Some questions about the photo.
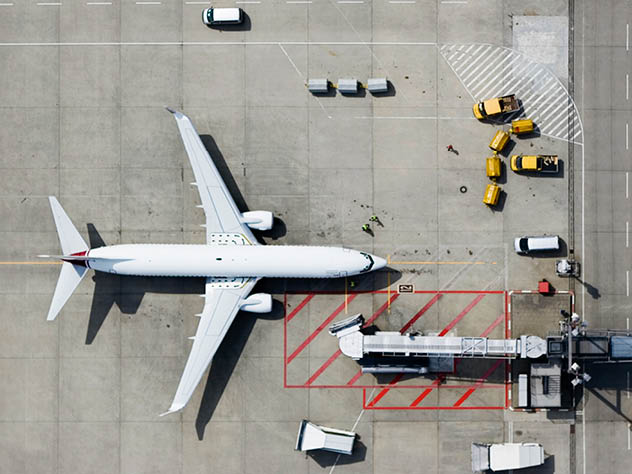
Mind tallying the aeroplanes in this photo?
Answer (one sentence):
The picture shows 1 aeroplane.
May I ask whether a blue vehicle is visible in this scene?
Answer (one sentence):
No, there appears to be no blue vehicle in this shot.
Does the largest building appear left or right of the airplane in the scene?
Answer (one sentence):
From the viewer's perspective, the largest building falls to the right of the airplane.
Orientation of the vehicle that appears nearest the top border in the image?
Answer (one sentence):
What the image shows is the vehicle that appears nearest the top border lying horizontally.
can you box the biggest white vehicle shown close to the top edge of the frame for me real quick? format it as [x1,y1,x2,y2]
[202,6,243,26]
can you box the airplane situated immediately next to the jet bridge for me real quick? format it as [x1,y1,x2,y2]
[43,107,386,414]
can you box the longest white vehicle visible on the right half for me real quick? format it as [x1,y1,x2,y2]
[513,234,559,254]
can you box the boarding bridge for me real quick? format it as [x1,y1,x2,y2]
[329,314,546,374]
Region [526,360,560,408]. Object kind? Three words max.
building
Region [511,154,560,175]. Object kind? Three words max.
vehicle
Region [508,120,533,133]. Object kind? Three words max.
vehicle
